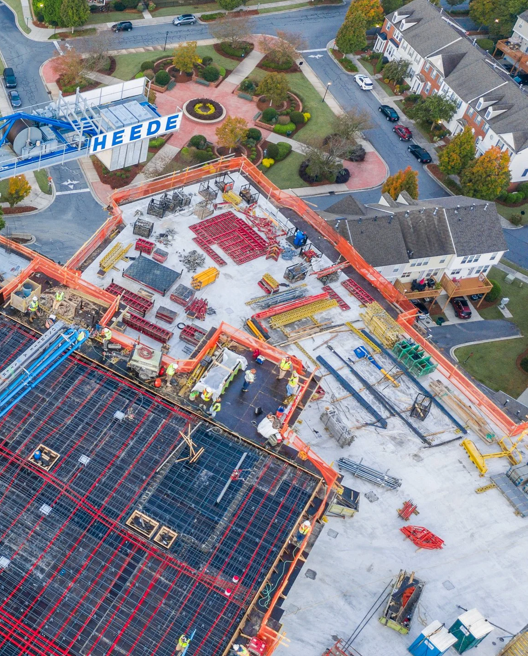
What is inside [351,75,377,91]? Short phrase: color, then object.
white car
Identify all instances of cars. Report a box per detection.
[400,298,436,325]
[111,21,134,34]
[351,75,377,91]
[9,91,22,102]
[375,106,403,122]
[173,15,197,28]
[405,146,434,164]
[447,293,477,322]
[4,68,16,86]
[388,124,417,143]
